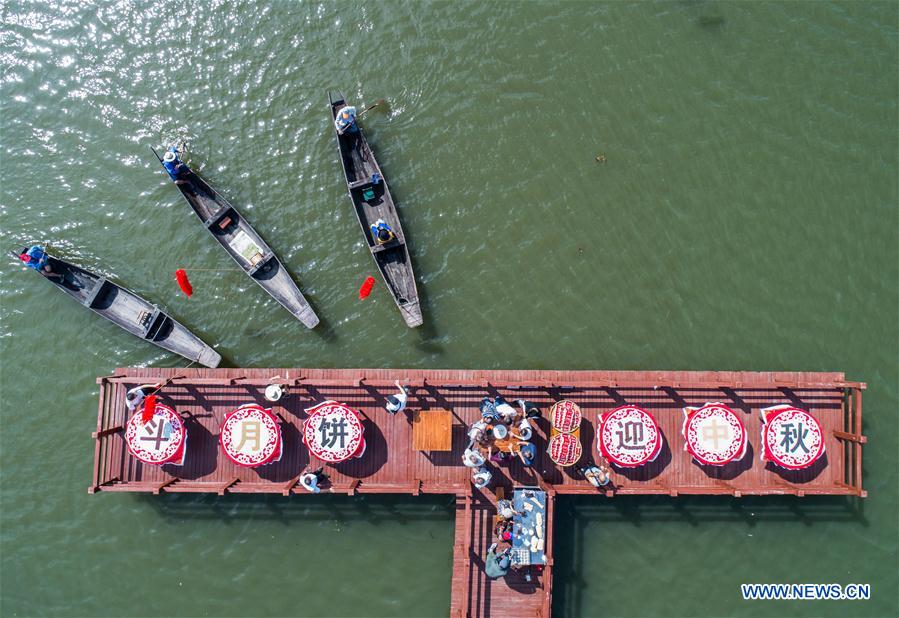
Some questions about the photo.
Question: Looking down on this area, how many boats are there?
3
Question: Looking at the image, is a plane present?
No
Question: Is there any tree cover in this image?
No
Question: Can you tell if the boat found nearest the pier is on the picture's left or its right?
left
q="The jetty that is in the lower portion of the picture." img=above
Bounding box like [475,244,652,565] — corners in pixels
[88,368,867,618]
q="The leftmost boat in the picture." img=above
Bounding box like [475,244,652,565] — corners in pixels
[5,241,222,368]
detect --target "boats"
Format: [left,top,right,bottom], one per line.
[5,241,222,368]
[325,86,424,328]
[146,138,321,329]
